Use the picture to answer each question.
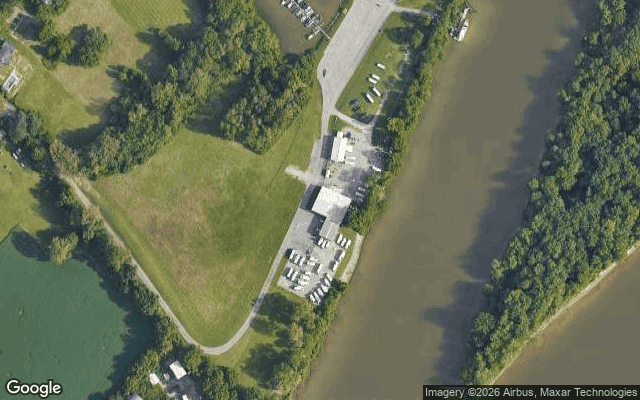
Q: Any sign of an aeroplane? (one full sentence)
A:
No, the scene contains no aeroplane.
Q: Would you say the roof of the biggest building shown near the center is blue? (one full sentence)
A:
No, the roof of the biggest building shown near the center is actually white.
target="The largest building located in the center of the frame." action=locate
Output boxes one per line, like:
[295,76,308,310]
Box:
[311,186,352,224]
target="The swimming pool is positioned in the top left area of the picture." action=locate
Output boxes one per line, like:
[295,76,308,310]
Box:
[2,71,21,91]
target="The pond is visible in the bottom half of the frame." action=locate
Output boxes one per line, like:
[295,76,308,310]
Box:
[0,226,151,400]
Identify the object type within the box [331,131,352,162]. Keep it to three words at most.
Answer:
building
